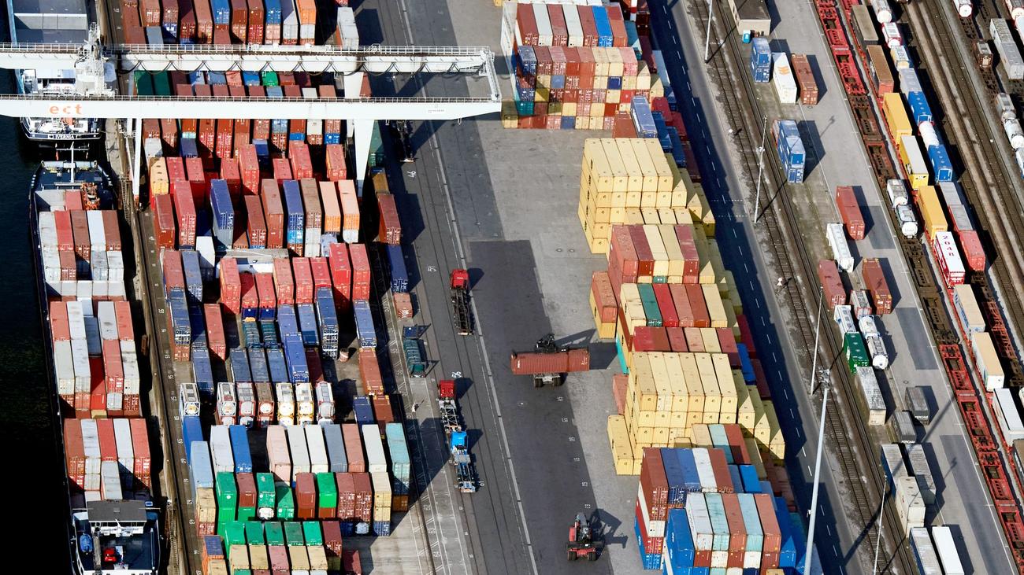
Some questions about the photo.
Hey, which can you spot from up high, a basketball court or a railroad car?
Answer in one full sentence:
It is a railroad car that can be seen here.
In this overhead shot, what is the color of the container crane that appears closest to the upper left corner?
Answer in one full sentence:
The container crane that appears closest to the upper left corner looks white in the image.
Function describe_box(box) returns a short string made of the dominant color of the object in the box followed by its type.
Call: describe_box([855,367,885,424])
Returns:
white shipping container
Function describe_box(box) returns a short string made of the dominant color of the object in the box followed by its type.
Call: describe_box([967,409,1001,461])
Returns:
red rail car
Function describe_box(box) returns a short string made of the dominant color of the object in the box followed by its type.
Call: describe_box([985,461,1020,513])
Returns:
red rail car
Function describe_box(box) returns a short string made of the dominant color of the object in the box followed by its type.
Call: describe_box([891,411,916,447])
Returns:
gray shipping container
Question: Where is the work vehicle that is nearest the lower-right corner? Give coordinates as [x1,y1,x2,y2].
[562,510,606,558]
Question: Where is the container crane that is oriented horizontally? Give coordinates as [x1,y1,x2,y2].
[0,0,502,205]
